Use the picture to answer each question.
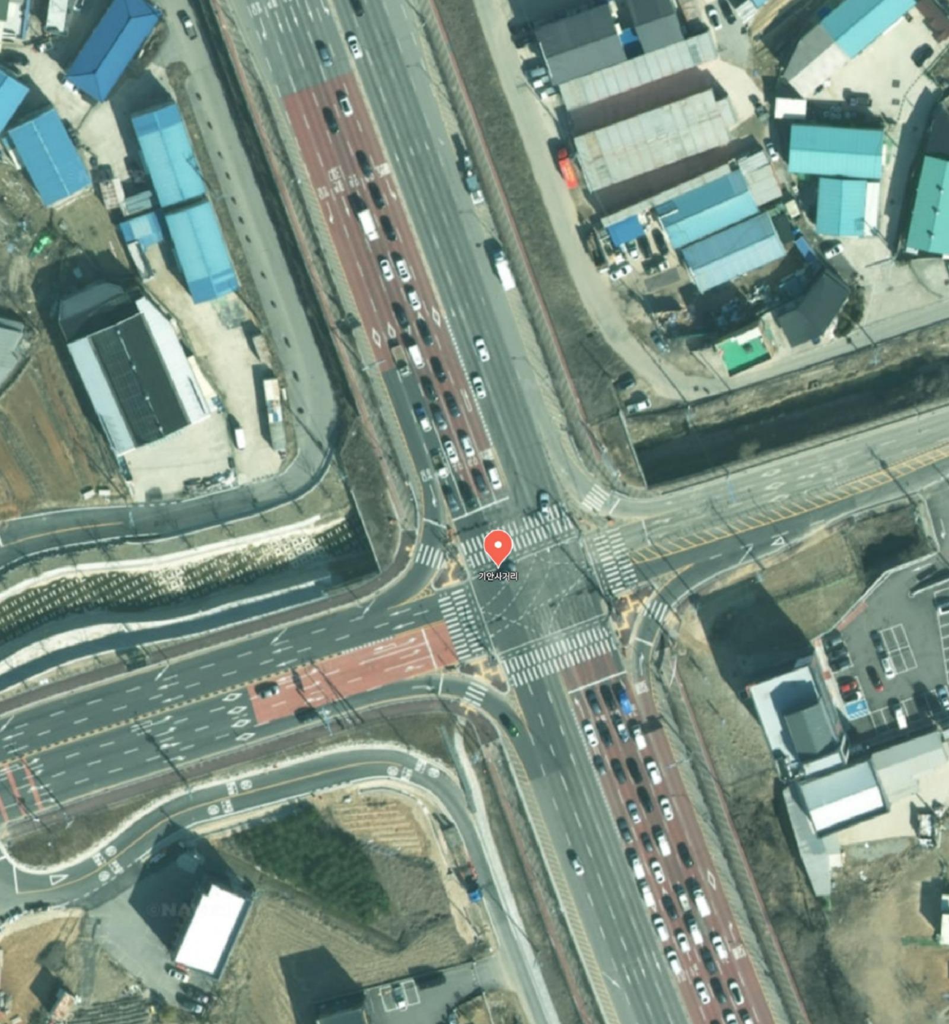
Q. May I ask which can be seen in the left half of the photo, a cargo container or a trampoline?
cargo container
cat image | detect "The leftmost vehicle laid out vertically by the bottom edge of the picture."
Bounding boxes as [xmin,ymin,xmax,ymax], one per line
[394,984,406,1007]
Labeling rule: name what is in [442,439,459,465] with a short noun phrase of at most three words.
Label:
car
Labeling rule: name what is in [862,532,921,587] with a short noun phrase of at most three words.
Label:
pond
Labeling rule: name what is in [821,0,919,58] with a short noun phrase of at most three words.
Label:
building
